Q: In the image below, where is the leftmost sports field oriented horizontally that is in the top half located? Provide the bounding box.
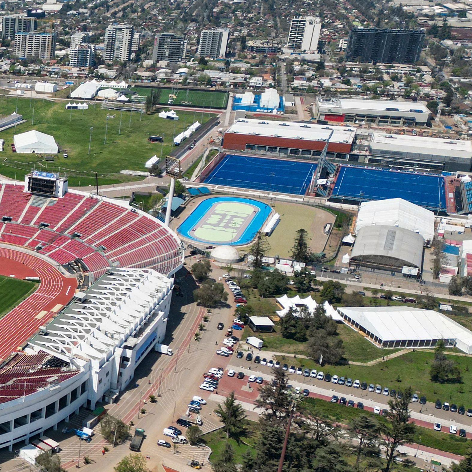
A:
[105,86,228,106]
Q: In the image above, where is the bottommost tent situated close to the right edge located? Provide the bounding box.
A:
[338,308,472,349]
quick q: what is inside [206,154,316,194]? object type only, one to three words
sports field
